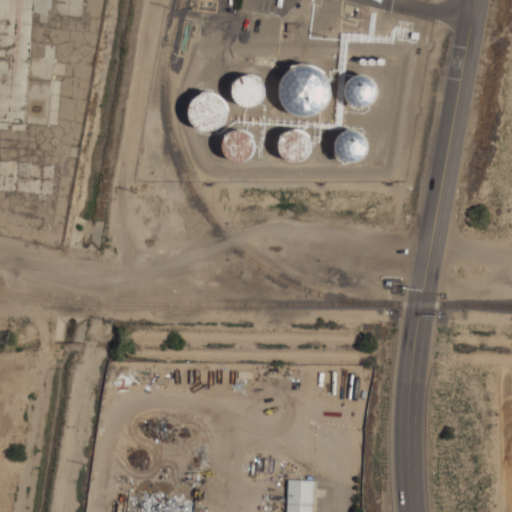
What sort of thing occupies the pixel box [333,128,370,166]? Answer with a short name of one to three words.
storage tank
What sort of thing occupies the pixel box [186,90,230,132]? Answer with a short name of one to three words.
storage tank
